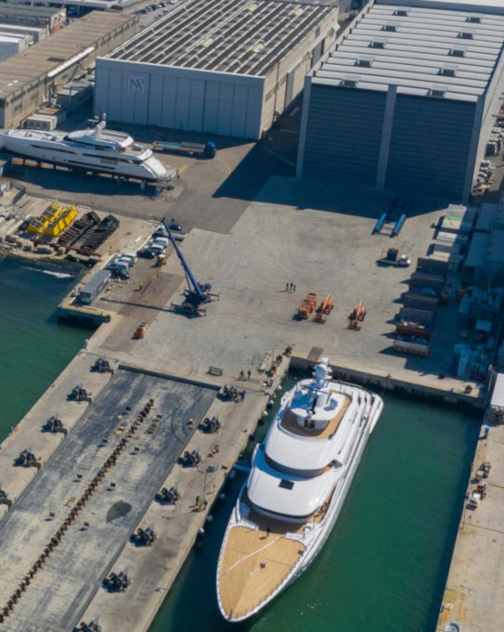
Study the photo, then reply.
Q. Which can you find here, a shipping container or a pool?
shipping container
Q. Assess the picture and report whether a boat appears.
Yes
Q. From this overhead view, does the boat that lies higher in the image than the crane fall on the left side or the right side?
left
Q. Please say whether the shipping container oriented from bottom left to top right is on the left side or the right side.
left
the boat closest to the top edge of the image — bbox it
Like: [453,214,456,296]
[0,107,190,195]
